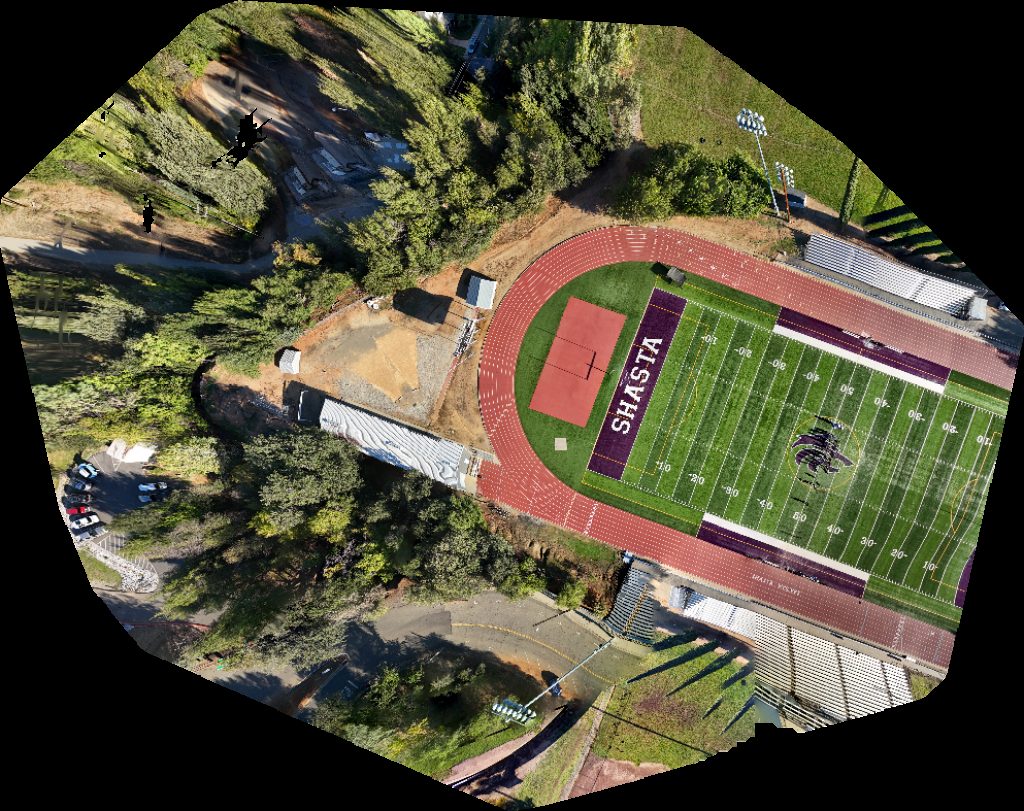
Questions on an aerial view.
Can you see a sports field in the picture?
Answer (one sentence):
Yes, a sports field appears in the view.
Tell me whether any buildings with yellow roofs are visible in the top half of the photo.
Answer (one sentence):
No, the scene shows no building with a yellow roof in the top half of the photo.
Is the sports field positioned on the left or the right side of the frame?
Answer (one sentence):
The sports field is on the right side of the image.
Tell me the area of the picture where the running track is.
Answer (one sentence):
The running track appears toward the right of the photo.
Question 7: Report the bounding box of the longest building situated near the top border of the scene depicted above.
[420,9,455,33]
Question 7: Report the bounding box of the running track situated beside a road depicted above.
[475,220,1018,669]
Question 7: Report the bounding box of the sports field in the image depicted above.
[516,262,1010,631]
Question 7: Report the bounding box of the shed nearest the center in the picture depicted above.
[464,275,503,310]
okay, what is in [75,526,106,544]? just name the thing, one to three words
vehicle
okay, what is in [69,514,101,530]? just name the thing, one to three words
vehicle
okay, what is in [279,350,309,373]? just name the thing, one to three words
shed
